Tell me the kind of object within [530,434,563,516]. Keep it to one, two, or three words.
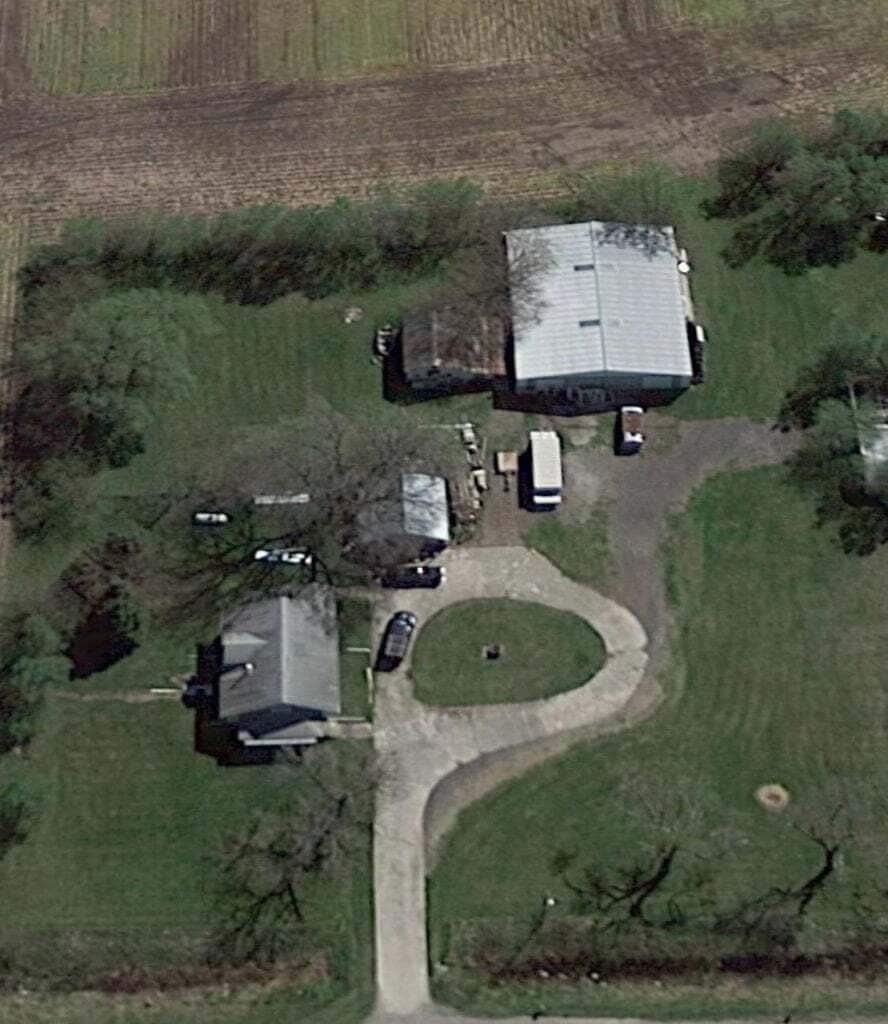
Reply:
truck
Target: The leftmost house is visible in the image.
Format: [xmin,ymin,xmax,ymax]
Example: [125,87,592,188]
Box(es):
[185,595,340,750]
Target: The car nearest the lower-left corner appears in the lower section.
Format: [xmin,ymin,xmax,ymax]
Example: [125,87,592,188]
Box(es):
[382,614,415,668]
